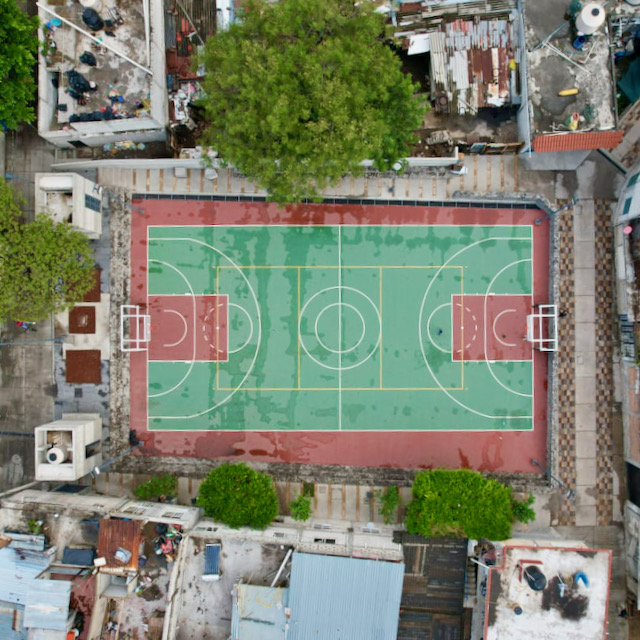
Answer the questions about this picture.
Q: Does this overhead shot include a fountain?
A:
No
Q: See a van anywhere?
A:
No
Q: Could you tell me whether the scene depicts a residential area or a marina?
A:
residential area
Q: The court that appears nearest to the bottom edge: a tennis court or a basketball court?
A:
basketball court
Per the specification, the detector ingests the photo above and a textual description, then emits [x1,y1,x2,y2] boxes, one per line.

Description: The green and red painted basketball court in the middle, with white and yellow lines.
[131,202,549,474]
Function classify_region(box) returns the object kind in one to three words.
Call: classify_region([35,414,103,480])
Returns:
water tower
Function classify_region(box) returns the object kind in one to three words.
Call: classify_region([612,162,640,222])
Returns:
house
